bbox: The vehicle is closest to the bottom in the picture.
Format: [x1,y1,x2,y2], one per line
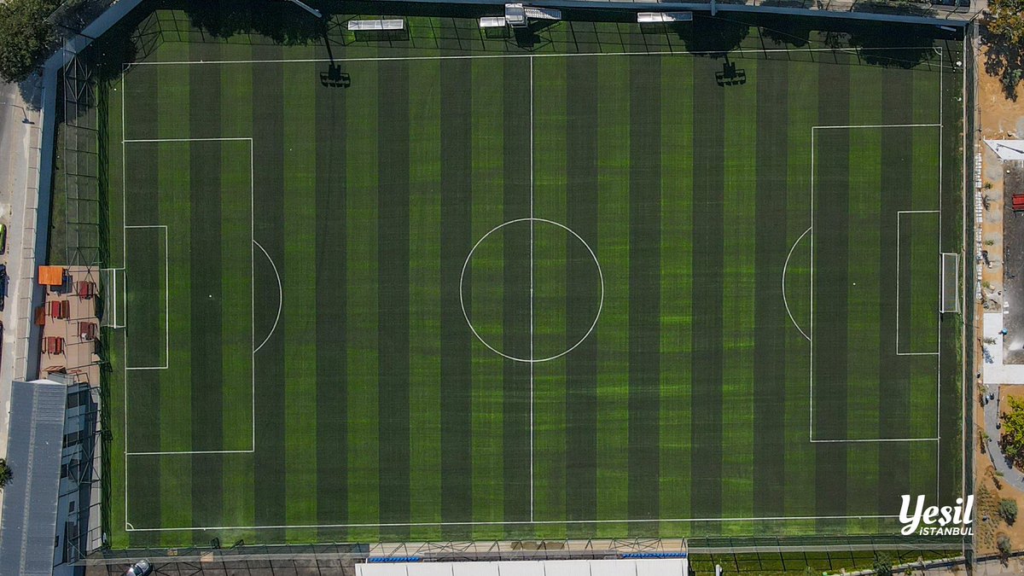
[123,556,157,576]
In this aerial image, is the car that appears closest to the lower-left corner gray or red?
gray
